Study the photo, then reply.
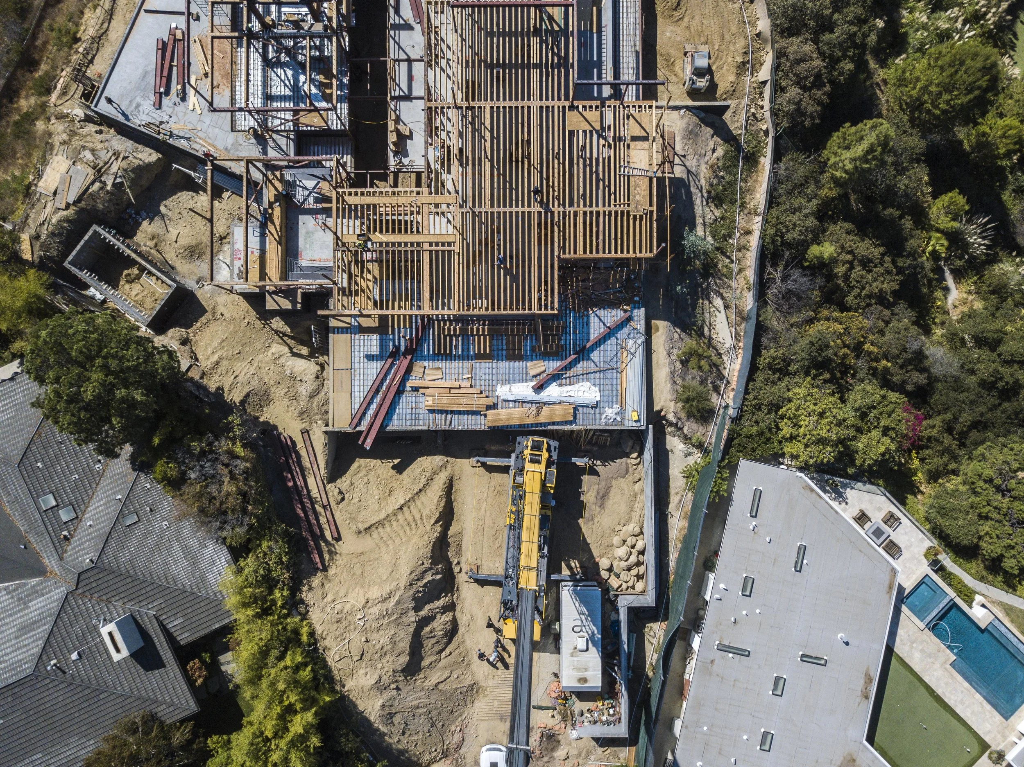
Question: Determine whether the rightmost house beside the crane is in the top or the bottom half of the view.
bottom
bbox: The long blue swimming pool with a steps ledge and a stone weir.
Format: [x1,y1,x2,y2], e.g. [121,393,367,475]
[926,601,1024,721]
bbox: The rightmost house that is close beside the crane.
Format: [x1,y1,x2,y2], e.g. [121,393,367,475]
[664,458,902,767]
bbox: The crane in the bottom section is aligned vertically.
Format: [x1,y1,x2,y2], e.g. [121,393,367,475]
[465,435,591,767]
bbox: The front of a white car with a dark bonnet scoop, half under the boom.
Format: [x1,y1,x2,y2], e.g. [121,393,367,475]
[480,740,507,767]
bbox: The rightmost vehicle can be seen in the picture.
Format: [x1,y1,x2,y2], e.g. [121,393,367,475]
[677,42,709,96]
